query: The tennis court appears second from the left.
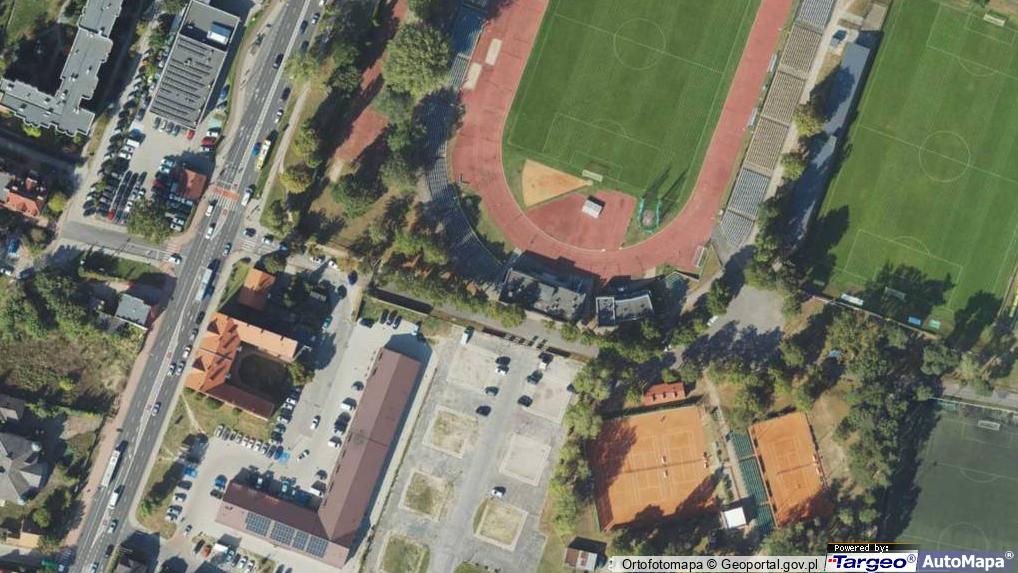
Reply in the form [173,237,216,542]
[648,406,720,518]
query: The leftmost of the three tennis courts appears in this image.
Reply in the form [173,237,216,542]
[593,415,667,531]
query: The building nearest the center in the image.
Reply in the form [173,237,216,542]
[500,269,586,323]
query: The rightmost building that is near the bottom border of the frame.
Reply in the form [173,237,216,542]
[564,549,597,572]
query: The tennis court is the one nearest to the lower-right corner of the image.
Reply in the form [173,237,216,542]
[749,412,834,527]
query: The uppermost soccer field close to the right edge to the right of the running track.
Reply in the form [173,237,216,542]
[806,0,1018,330]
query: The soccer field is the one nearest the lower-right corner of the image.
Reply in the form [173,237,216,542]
[865,403,1018,573]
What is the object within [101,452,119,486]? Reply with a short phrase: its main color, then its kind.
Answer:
white vehicle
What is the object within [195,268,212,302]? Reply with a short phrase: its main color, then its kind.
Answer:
white vehicle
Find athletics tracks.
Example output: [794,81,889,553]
[451,0,792,284]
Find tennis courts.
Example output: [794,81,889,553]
[749,412,834,527]
[648,406,720,518]
[593,415,667,531]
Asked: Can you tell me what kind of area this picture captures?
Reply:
sports ground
